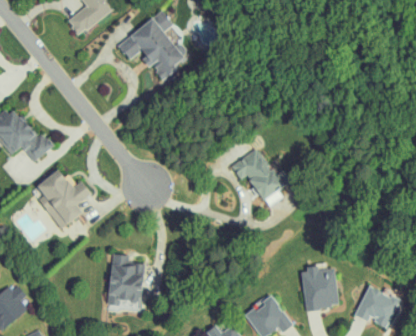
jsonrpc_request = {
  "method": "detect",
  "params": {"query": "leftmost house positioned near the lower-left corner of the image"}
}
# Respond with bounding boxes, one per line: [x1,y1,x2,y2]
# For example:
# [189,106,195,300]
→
[0,285,30,335]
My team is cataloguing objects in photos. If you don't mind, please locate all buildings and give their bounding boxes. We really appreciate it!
[0,285,30,335]
[115,8,191,83]
[246,296,295,336]
[36,170,93,230]
[70,0,116,36]
[106,254,147,306]
[0,108,55,164]
[354,286,404,332]
[302,267,340,314]
[206,326,242,336]
[230,149,286,200]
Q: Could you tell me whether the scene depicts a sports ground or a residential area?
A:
residential area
